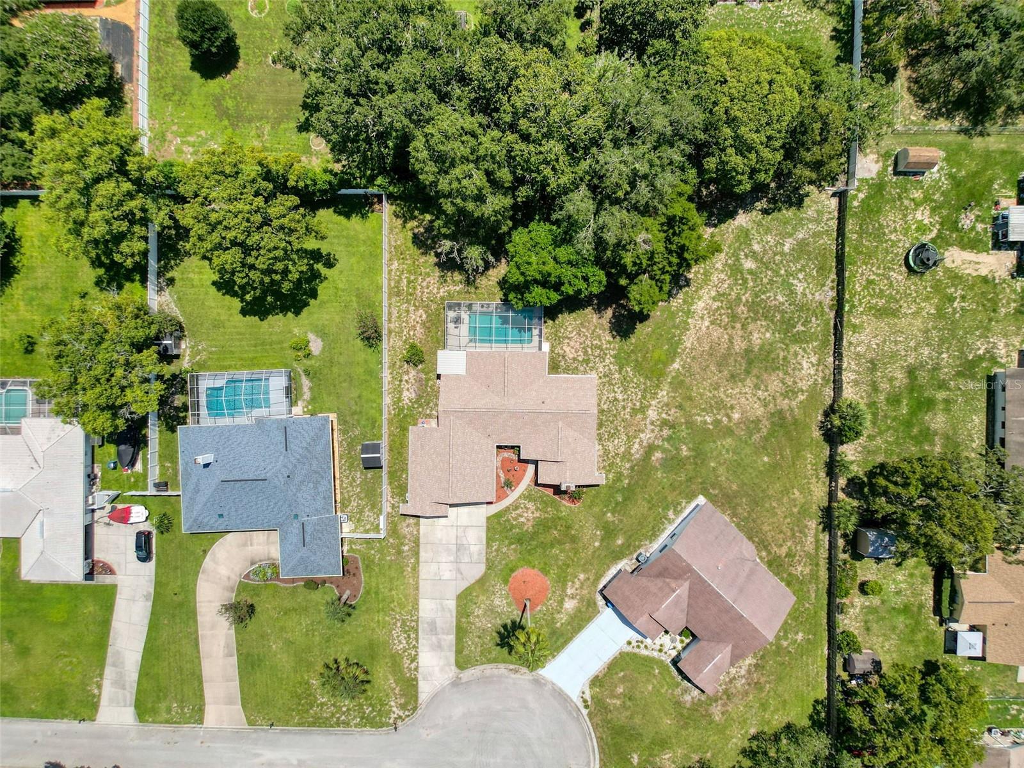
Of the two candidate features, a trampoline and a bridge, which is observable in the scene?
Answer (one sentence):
Looking from above, you can make out a trampoline.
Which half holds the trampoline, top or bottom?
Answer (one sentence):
You can find the trampoline in the top half.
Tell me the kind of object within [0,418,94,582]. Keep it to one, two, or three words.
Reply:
house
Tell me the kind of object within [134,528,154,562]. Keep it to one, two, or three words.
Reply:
car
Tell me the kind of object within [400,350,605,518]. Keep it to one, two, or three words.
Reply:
house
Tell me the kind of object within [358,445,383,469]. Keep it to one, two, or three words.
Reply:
shed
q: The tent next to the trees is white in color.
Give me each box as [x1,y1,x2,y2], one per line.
[942,624,979,656]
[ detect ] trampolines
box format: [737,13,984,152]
[905,239,945,273]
